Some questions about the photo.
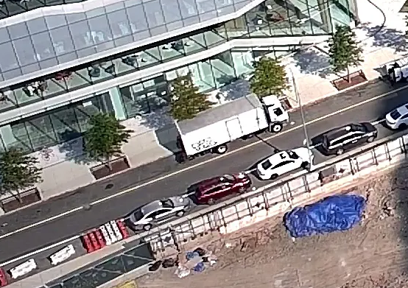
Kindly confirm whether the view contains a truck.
Yes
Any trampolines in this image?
No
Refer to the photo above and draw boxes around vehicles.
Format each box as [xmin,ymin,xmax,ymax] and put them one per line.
[386,101,408,127]
[319,119,379,153]
[189,166,253,203]
[177,87,300,159]
[254,146,314,178]
[127,190,191,226]
[386,56,408,84]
